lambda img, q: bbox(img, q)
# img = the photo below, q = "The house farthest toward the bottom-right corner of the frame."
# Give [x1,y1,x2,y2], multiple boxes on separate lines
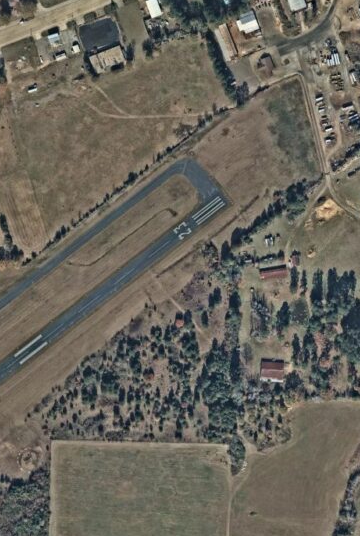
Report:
[260,361,284,381]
